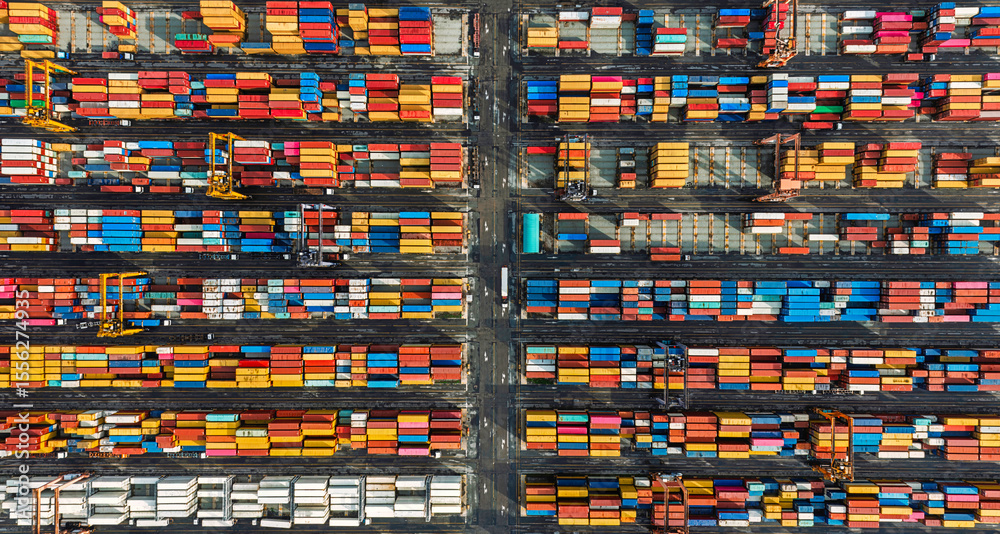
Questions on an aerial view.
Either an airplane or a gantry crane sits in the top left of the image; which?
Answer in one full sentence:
The one visible in the top left of the image is a gantry crane.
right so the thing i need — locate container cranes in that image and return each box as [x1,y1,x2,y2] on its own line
[297,203,338,269]
[754,133,801,205]
[649,473,688,534]
[33,474,92,534]
[24,57,81,135]
[558,132,591,203]
[99,271,151,339]
[806,407,854,485]
[649,340,688,415]
[753,0,797,66]
[205,132,253,202]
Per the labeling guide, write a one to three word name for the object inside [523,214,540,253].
shed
